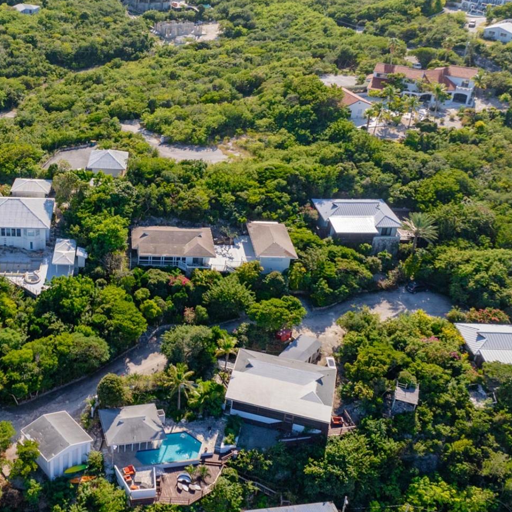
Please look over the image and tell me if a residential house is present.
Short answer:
Yes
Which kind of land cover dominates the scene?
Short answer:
trees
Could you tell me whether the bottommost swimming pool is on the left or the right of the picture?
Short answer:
left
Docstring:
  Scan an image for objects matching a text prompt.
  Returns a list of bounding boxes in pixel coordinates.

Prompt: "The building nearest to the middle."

[248,221,298,271]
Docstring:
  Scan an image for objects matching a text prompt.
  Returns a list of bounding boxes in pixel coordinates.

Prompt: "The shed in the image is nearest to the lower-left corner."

[25,409,93,478]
